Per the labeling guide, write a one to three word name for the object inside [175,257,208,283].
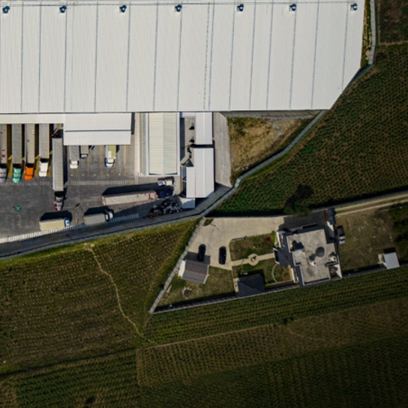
shed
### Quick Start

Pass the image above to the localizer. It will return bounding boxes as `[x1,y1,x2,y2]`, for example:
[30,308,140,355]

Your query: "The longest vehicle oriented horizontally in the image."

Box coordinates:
[101,186,169,205]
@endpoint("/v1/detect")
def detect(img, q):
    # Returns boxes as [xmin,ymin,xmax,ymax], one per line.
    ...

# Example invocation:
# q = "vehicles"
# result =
[24,124,34,179]
[156,179,174,186]
[337,226,345,245]
[38,124,48,173]
[107,145,116,167]
[42,219,69,229]
[69,145,79,168]
[83,213,111,225]
[101,186,169,205]
[0,125,7,179]
[50,138,61,205]
[197,246,205,261]
[80,145,89,161]
[218,247,226,262]
[11,124,22,179]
